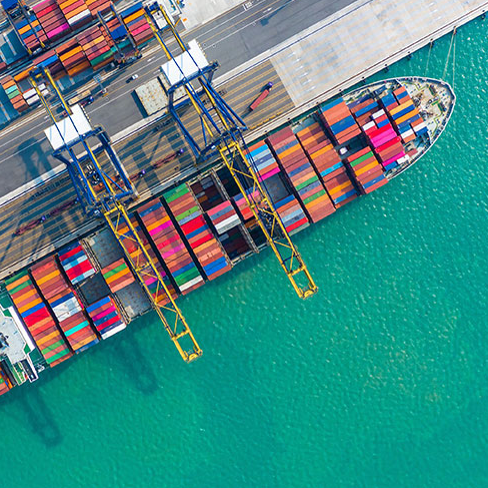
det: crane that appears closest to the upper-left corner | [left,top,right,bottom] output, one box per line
[0,0,52,63]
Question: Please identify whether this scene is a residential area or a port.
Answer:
port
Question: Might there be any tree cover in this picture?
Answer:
No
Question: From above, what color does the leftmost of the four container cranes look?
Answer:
blue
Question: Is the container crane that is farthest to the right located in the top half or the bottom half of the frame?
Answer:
top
